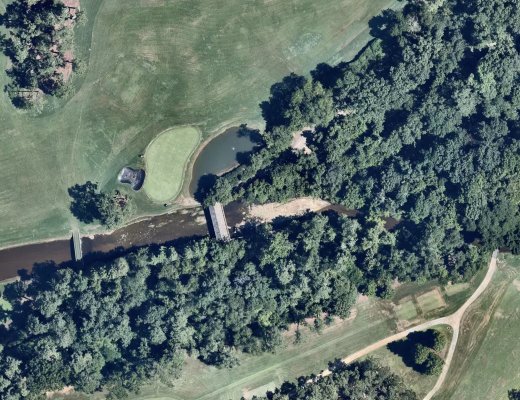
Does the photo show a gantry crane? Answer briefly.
No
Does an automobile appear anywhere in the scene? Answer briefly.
No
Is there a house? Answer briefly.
No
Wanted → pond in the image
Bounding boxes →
[188,123,268,204]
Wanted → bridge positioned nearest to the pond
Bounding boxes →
[206,198,231,245]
